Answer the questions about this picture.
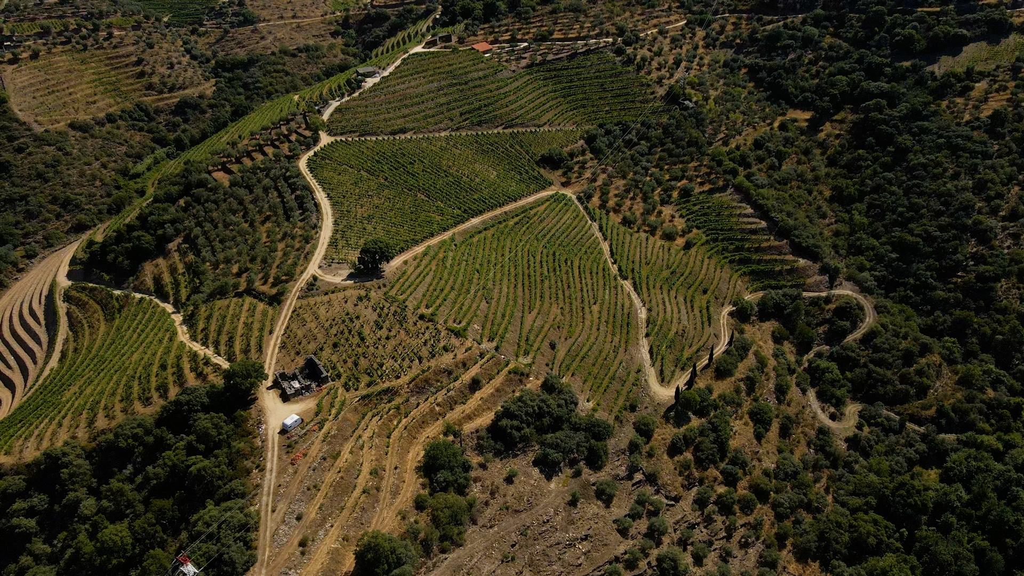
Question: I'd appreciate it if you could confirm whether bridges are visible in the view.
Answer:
No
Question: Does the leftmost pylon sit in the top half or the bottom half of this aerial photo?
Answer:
bottom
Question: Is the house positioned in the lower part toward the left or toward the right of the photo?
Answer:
left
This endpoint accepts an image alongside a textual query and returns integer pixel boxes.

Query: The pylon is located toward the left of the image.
[177,550,200,576]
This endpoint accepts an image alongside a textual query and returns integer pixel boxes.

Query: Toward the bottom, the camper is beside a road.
[280,411,304,429]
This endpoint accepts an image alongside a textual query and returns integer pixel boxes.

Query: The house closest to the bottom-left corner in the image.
[274,353,332,401]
